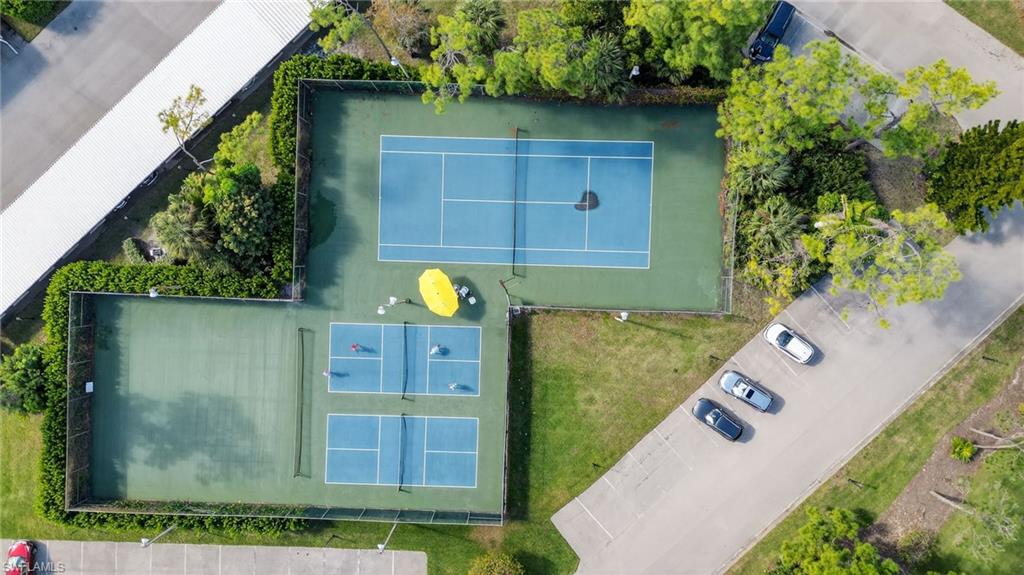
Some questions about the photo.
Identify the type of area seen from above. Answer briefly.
sports ground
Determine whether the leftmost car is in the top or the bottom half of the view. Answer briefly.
bottom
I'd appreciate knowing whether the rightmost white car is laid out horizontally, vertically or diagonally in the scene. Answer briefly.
diagonally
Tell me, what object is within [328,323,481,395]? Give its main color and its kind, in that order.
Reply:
blue sports court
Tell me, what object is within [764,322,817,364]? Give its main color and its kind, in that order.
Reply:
white car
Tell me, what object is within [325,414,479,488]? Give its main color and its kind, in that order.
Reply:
blue sports court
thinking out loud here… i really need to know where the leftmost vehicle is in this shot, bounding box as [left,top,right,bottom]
[5,539,35,575]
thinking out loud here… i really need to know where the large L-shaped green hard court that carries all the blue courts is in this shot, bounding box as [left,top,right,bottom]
[91,90,732,514]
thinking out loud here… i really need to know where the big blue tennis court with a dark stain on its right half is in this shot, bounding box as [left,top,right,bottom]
[378,135,654,268]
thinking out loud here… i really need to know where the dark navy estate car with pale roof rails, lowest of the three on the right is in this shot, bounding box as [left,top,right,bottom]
[690,398,745,442]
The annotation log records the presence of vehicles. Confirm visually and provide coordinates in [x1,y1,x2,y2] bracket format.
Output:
[145,169,159,182]
[746,2,797,62]
[720,370,776,413]
[764,322,817,364]
[690,398,745,442]
[5,539,35,575]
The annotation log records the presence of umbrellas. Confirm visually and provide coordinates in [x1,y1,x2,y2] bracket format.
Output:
[419,268,459,317]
